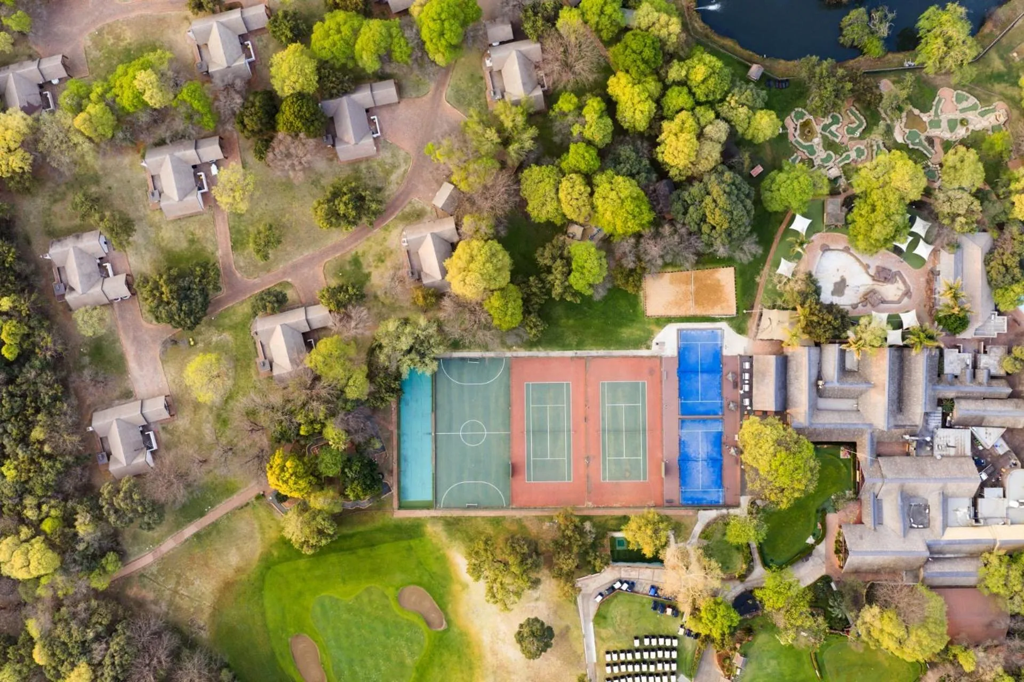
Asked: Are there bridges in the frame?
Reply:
No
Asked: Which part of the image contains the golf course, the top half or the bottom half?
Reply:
bottom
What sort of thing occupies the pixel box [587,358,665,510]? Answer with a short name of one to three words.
tennis court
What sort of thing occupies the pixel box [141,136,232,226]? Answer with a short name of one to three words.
house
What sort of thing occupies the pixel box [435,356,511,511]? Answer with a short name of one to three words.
sports court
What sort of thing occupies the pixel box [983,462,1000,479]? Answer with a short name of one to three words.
vehicle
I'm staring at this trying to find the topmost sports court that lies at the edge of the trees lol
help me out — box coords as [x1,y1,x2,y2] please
[644,266,738,318]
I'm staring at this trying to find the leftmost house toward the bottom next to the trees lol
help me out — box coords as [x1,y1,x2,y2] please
[87,394,180,483]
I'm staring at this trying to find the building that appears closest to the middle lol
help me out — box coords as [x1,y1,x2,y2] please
[402,217,464,299]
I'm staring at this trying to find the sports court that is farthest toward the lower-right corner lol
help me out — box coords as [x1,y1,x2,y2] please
[680,419,729,509]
